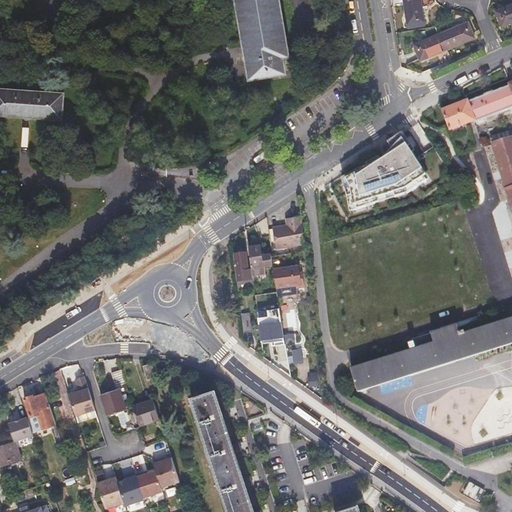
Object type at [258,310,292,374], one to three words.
house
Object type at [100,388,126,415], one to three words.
house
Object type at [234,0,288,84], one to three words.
building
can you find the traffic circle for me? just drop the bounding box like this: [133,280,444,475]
[112,240,232,364]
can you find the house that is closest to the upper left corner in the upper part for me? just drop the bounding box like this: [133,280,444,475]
[0,88,64,122]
